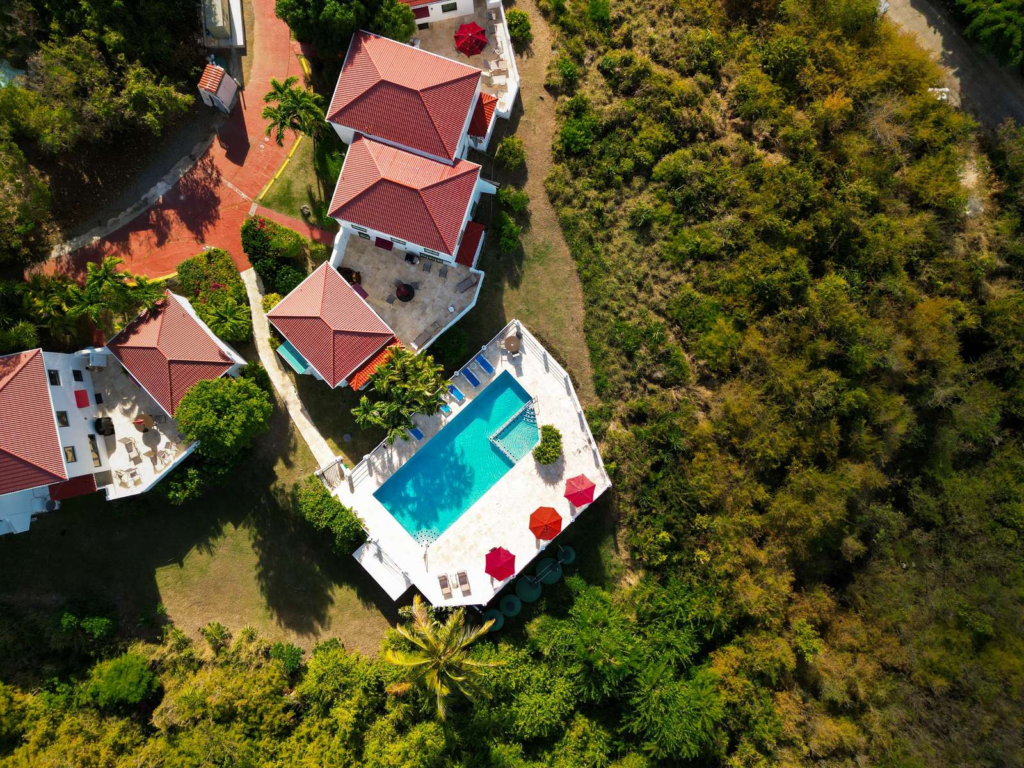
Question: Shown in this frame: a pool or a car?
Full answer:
Visible in the photo is a pool.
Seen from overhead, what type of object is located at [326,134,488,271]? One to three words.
house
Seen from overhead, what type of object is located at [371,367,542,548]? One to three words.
swimming pool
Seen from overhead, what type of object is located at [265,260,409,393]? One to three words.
building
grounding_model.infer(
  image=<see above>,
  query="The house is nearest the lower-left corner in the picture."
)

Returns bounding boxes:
[0,347,112,534]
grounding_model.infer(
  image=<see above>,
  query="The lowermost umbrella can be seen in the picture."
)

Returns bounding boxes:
[485,546,515,581]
